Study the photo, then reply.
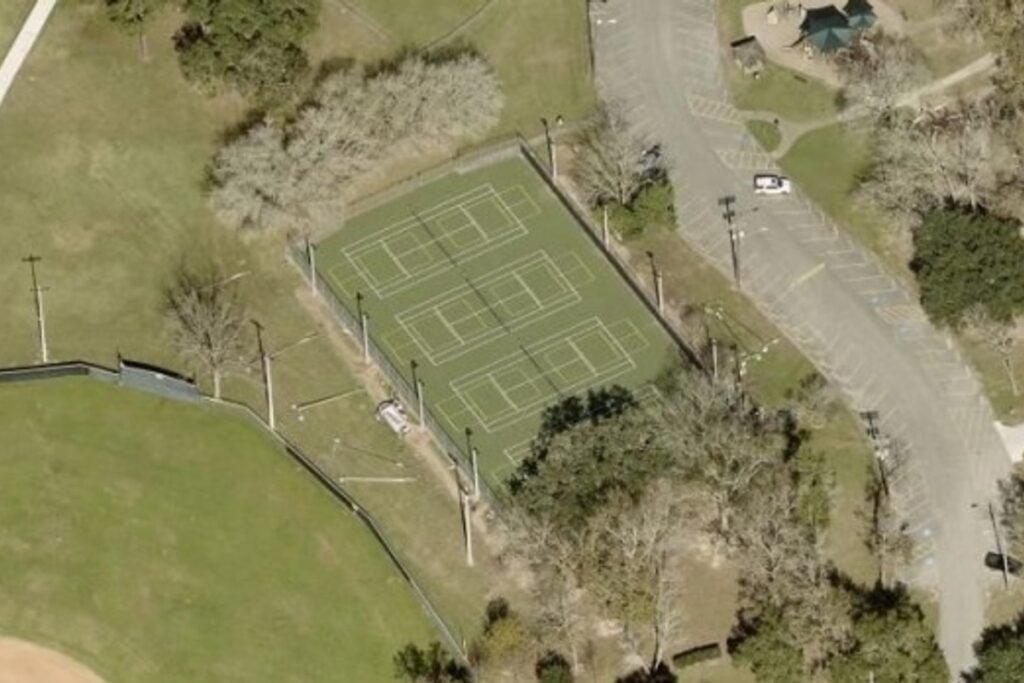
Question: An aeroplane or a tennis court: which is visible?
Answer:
tennis court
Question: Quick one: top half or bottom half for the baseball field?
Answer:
bottom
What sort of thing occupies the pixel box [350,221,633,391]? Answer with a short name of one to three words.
tennis court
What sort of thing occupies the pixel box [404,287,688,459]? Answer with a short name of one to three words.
tennis court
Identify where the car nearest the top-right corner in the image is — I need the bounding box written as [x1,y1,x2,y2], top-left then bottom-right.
[754,178,790,196]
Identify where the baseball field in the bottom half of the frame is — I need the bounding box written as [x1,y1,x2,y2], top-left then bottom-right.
[0,374,472,683]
